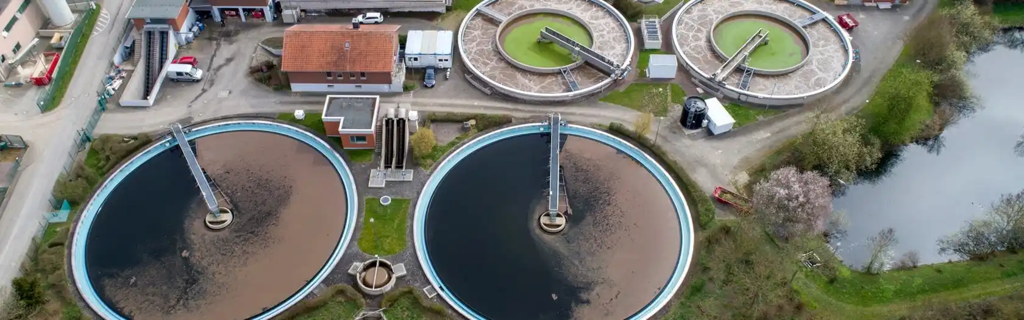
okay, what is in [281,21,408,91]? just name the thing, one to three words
house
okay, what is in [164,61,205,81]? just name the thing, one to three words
vehicle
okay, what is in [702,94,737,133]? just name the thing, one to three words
shed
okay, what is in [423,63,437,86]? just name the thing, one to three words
car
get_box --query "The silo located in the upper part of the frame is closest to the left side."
[35,0,81,29]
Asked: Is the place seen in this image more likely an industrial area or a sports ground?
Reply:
industrial area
